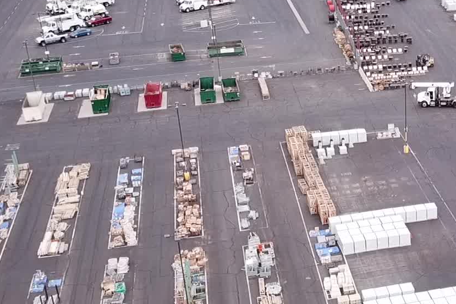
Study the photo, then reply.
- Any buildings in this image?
No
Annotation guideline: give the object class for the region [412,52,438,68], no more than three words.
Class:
work vehicle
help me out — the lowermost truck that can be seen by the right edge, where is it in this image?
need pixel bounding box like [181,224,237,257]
[410,83,456,110]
